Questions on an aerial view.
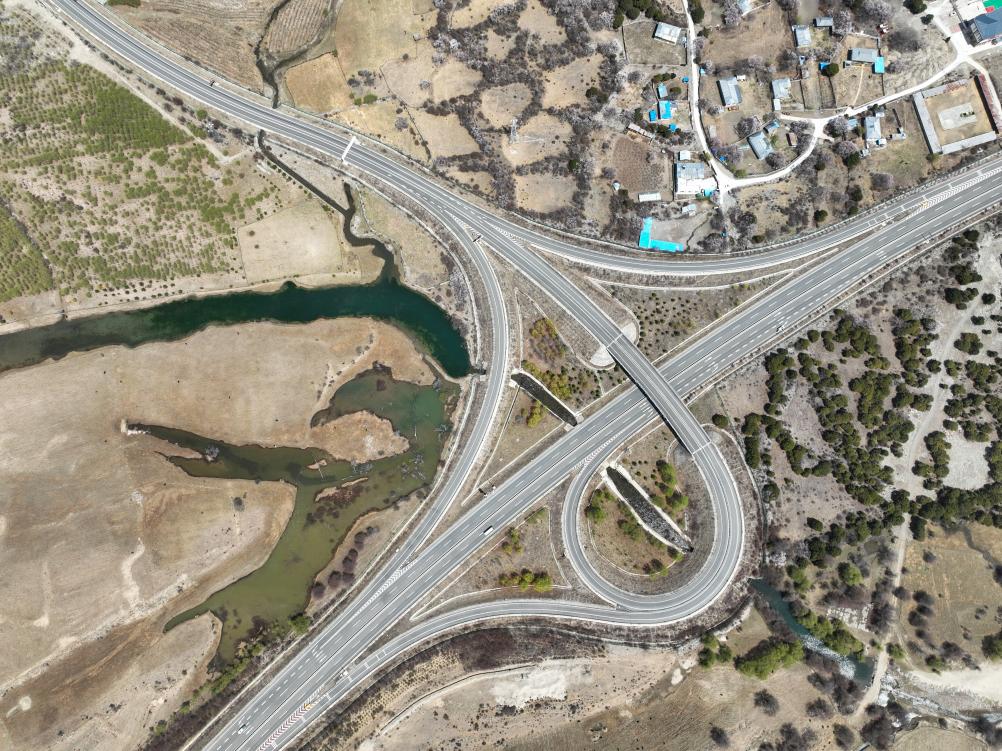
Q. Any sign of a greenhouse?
No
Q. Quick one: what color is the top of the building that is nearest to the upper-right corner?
blue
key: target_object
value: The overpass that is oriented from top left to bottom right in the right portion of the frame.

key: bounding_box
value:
[607,333,710,455]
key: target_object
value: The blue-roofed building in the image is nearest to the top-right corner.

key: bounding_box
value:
[957,7,1002,47]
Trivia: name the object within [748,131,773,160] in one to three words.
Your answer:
house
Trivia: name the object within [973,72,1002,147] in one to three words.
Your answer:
house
